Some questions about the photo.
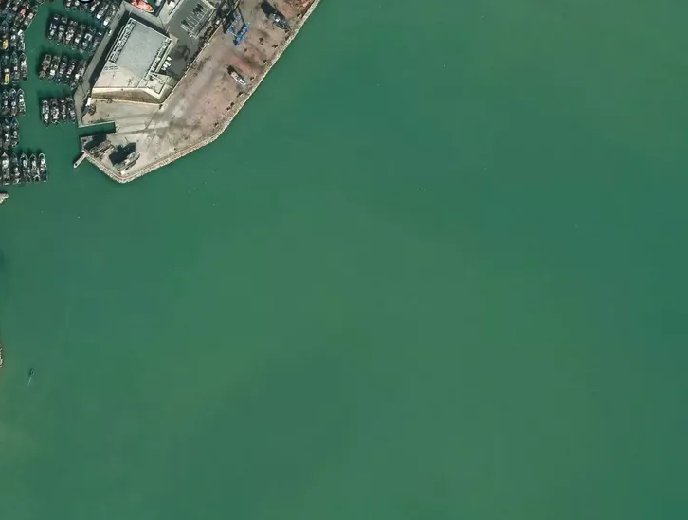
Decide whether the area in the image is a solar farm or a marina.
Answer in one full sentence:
This image shows a marina.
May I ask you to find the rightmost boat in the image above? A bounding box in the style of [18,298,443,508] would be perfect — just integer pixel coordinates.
[267,9,291,28]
